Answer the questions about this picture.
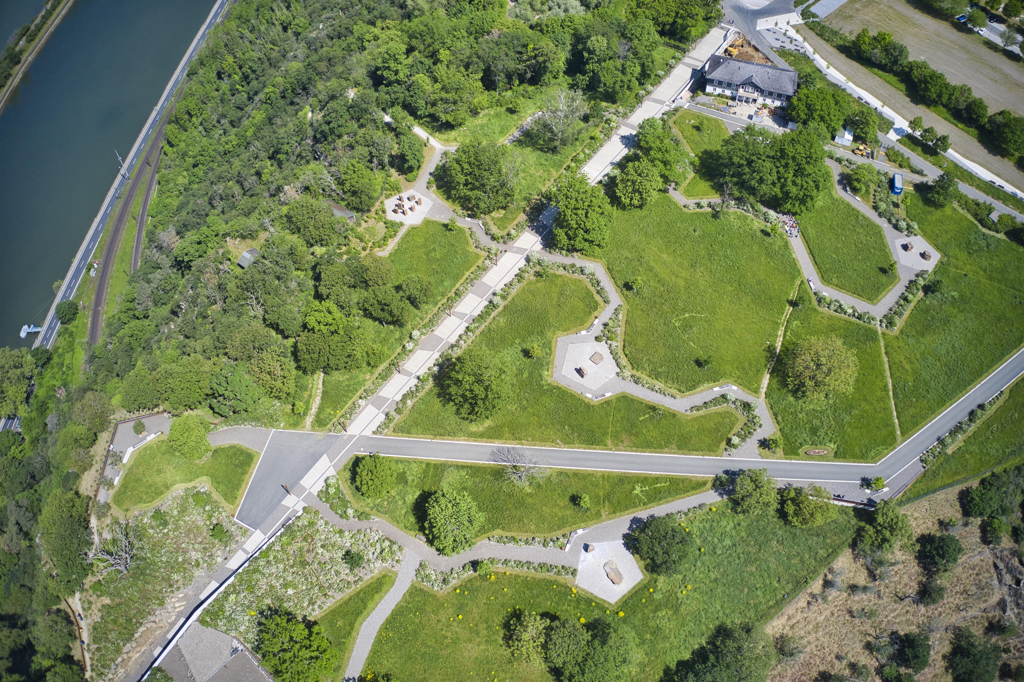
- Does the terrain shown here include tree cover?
Yes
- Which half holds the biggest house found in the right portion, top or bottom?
top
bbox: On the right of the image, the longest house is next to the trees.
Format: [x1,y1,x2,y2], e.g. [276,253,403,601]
[706,54,800,107]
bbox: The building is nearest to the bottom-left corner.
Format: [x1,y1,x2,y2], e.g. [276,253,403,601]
[160,621,277,682]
